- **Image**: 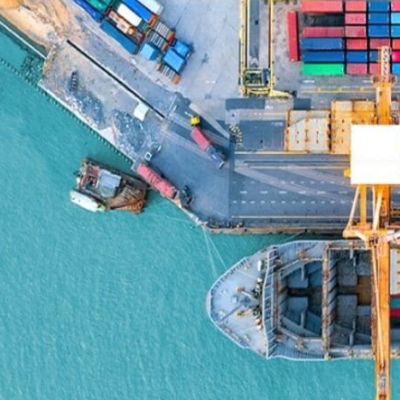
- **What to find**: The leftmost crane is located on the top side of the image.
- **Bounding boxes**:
[241,0,299,94]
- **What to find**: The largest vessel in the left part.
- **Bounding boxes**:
[72,156,149,215]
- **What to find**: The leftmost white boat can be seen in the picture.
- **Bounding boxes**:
[68,189,104,210]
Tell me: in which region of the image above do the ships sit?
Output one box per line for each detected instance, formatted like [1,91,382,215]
[205,238,372,362]
[72,156,149,215]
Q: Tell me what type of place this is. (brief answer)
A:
port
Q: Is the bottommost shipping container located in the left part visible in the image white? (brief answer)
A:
No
